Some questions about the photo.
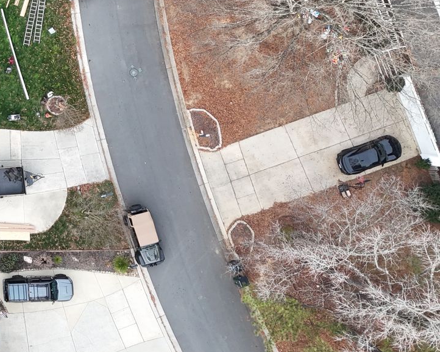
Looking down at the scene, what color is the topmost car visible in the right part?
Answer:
black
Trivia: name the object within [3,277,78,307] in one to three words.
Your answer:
truck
